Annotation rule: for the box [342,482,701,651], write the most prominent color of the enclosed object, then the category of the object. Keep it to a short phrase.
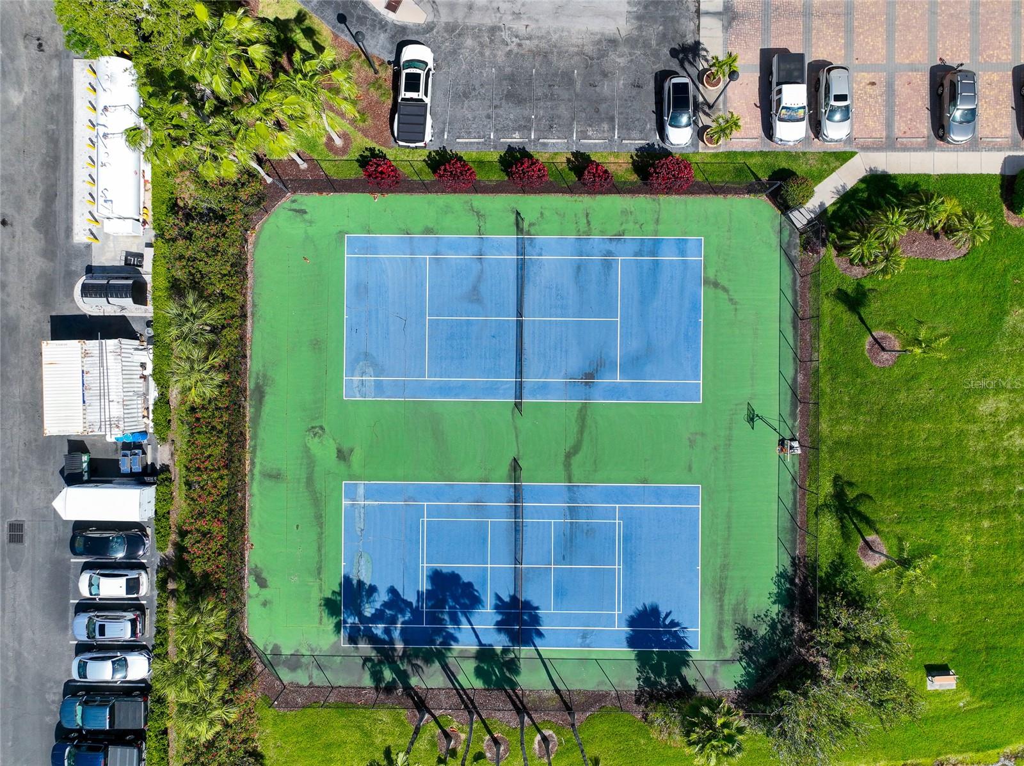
blue tennis court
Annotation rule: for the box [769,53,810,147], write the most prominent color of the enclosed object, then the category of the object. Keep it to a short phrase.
white truck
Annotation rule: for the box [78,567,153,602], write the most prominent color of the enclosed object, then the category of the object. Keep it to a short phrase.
white car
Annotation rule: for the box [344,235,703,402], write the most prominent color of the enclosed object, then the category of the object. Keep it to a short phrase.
blue tennis court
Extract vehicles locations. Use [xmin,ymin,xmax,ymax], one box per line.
[61,689,153,731]
[816,65,855,143]
[769,53,810,147]
[53,731,150,766]
[395,44,435,148]
[72,648,153,685]
[661,75,697,148]
[73,607,148,644]
[78,567,153,602]
[70,528,151,562]
[939,70,981,145]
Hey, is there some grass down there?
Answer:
Yes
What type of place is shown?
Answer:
sports ground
